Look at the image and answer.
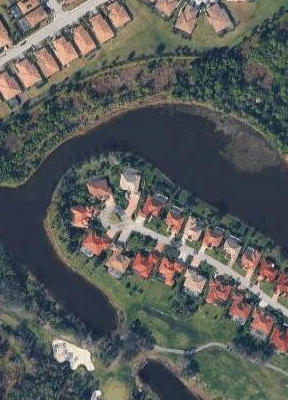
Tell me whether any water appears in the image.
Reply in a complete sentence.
Yes, water shows up in the scene.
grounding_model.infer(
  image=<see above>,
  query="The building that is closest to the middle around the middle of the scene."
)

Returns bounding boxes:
[140,192,164,216]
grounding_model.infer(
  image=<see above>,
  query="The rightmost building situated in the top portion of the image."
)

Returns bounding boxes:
[207,6,233,32]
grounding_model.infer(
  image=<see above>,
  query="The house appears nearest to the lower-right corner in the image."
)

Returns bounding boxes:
[269,326,288,354]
